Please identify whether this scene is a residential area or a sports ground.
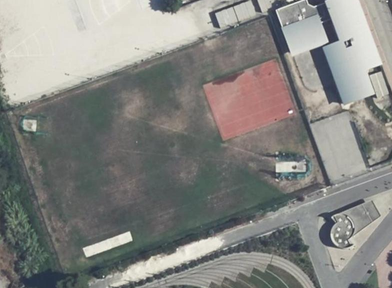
sports ground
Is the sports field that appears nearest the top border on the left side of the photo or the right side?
left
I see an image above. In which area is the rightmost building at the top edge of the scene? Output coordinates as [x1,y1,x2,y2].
[323,0,382,106]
